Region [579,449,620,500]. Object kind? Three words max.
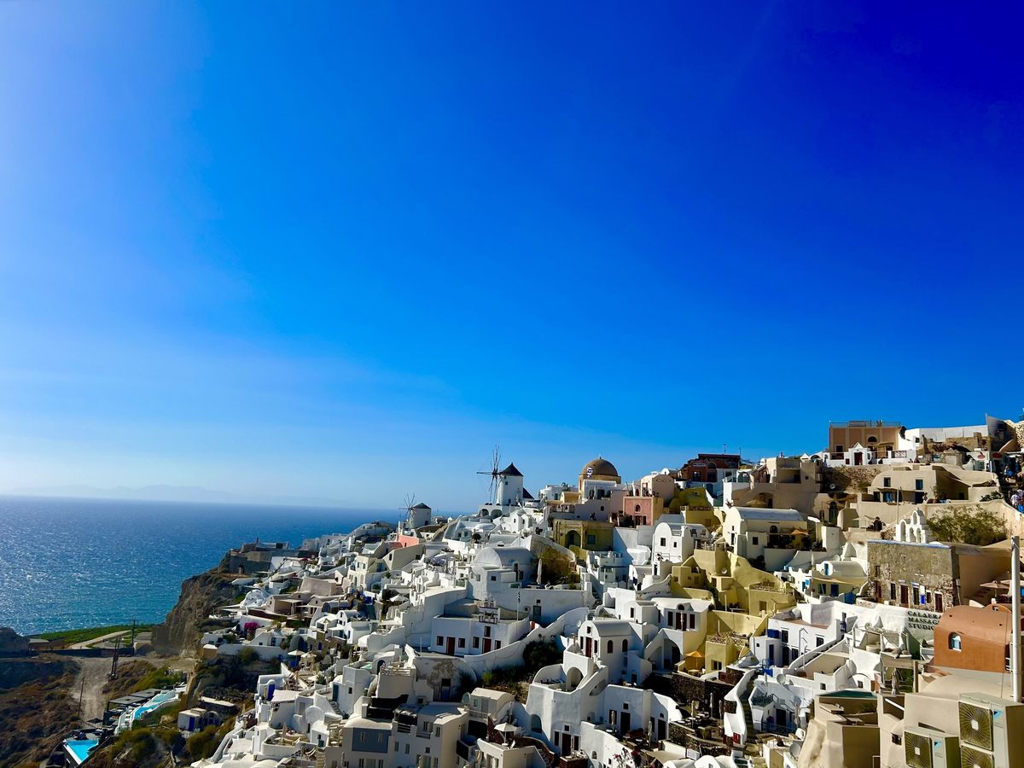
building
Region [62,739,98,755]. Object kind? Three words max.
swimming pool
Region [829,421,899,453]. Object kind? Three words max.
house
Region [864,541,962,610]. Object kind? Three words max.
house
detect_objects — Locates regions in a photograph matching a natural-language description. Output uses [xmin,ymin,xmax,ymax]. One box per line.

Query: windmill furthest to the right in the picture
[477,445,526,516]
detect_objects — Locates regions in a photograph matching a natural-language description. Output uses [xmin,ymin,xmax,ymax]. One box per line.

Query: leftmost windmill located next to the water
[400,492,433,528]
